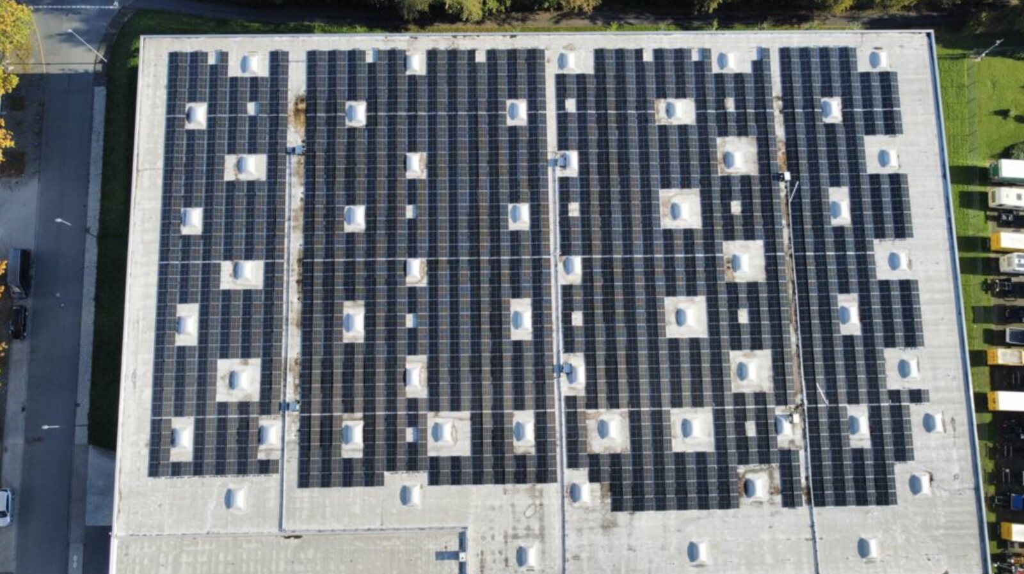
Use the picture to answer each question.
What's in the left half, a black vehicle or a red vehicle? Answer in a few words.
black vehicle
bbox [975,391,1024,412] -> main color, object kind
white truck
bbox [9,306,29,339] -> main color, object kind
black car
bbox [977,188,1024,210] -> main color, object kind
white camper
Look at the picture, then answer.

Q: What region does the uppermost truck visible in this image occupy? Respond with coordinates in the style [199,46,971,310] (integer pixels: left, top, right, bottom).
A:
[975,159,1024,183]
